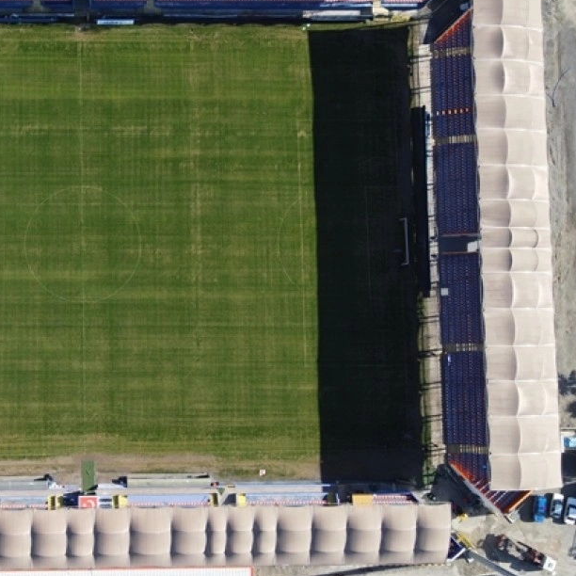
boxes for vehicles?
[501,535,563,576]
[562,496,576,523]
[548,491,564,518]
[533,495,548,521]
